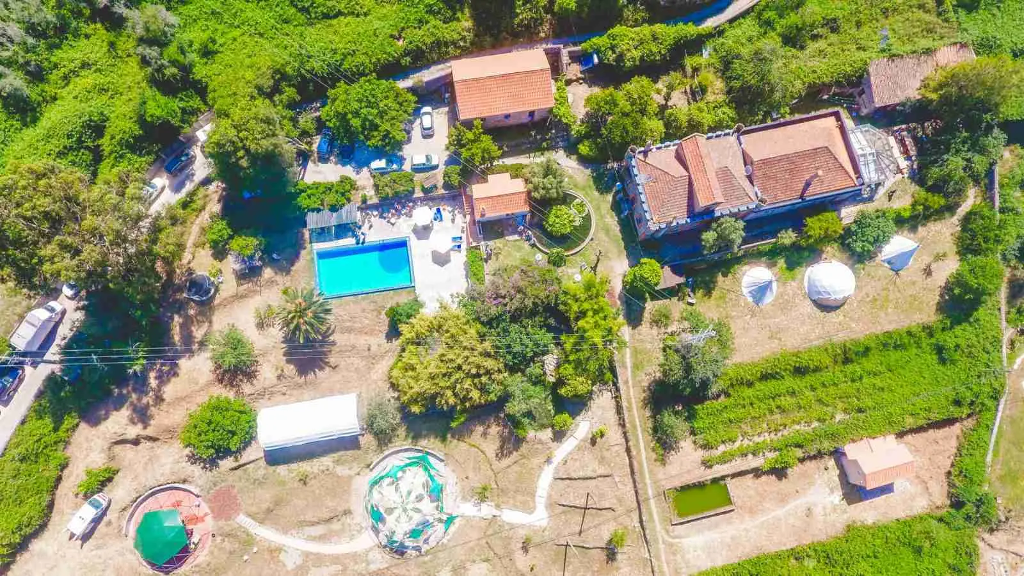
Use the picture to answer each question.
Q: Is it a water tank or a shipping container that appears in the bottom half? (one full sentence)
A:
The one visible in the bottom half is a water tank.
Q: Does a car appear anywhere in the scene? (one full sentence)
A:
Yes, a car appears in the view.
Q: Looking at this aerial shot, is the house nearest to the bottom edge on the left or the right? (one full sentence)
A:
The house nearest to the bottom edge appears in the right half of the scene.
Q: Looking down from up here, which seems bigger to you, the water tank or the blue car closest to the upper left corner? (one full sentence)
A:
The water tank is larger than the car.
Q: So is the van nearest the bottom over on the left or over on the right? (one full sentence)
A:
The van nearest the bottom sits on the left side.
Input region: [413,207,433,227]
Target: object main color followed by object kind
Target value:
white umbrella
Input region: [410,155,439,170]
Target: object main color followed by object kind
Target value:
white car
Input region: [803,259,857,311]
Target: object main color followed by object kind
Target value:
white tent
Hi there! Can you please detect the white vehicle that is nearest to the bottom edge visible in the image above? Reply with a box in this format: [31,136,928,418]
[65,492,113,538]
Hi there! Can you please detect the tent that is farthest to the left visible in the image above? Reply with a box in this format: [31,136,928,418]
[257,393,363,449]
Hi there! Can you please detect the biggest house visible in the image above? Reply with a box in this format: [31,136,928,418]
[620,109,864,241]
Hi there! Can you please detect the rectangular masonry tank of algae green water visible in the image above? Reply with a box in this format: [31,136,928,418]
[665,476,736,524]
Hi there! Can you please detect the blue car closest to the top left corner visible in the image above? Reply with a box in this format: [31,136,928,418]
[163,147,197,176]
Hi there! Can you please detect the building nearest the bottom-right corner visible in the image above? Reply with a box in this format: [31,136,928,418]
[842,435,916,505]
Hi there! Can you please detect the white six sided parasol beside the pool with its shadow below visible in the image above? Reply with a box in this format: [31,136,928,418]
[430,231,451,255]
